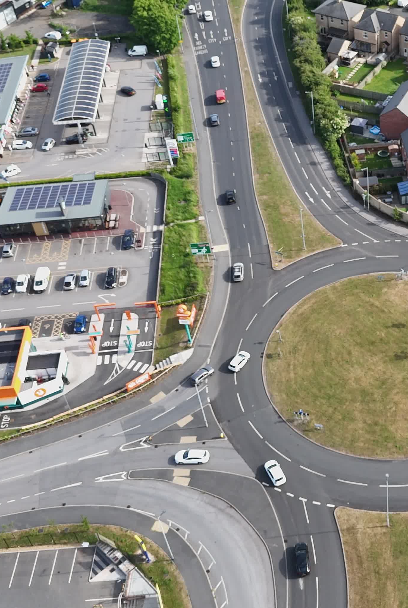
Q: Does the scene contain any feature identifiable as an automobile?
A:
Yes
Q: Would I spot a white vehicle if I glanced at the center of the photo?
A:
Yes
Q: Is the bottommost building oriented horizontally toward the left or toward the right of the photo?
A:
left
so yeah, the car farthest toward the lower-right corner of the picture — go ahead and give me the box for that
[293,542,313,579]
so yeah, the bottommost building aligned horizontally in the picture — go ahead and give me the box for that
[0,166,115,233]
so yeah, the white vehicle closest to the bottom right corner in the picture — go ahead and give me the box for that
[263,460,288,486]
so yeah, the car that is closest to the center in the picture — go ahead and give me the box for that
[231,262,245,283]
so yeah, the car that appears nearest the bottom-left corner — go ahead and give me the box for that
[174,448,211,465]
